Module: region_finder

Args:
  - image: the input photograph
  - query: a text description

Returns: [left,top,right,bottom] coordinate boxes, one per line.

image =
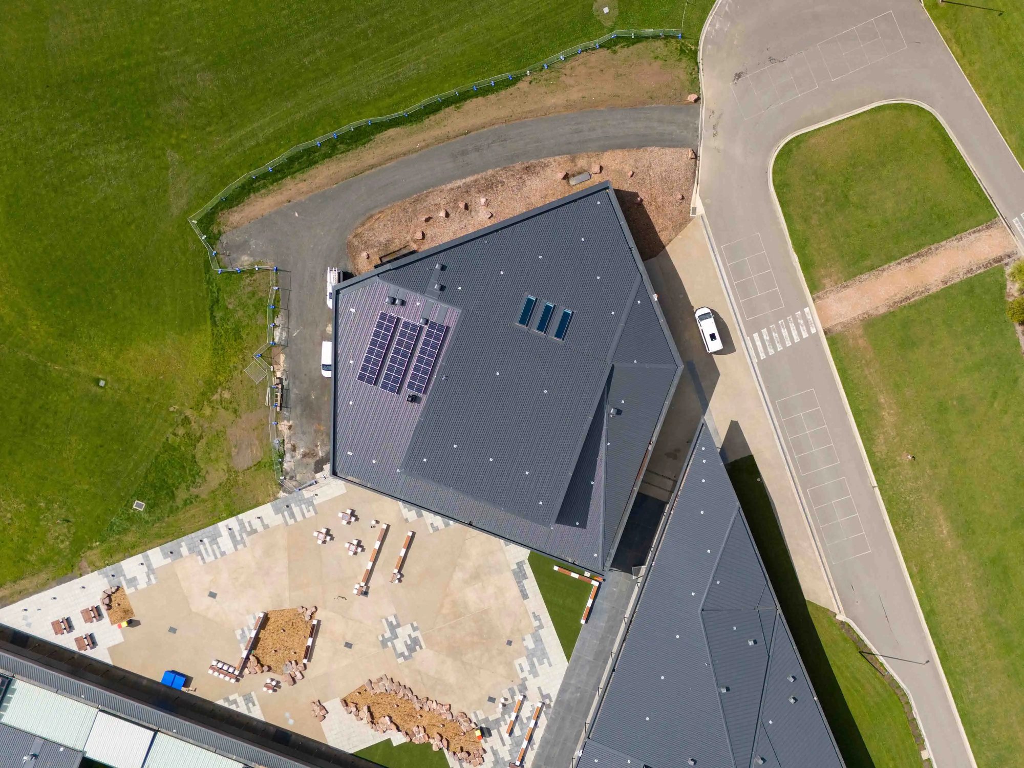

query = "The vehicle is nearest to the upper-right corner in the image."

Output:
[695,305,724,354]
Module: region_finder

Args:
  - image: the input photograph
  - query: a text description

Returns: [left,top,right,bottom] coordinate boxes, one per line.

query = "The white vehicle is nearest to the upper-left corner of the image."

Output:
[326,263,343,308]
